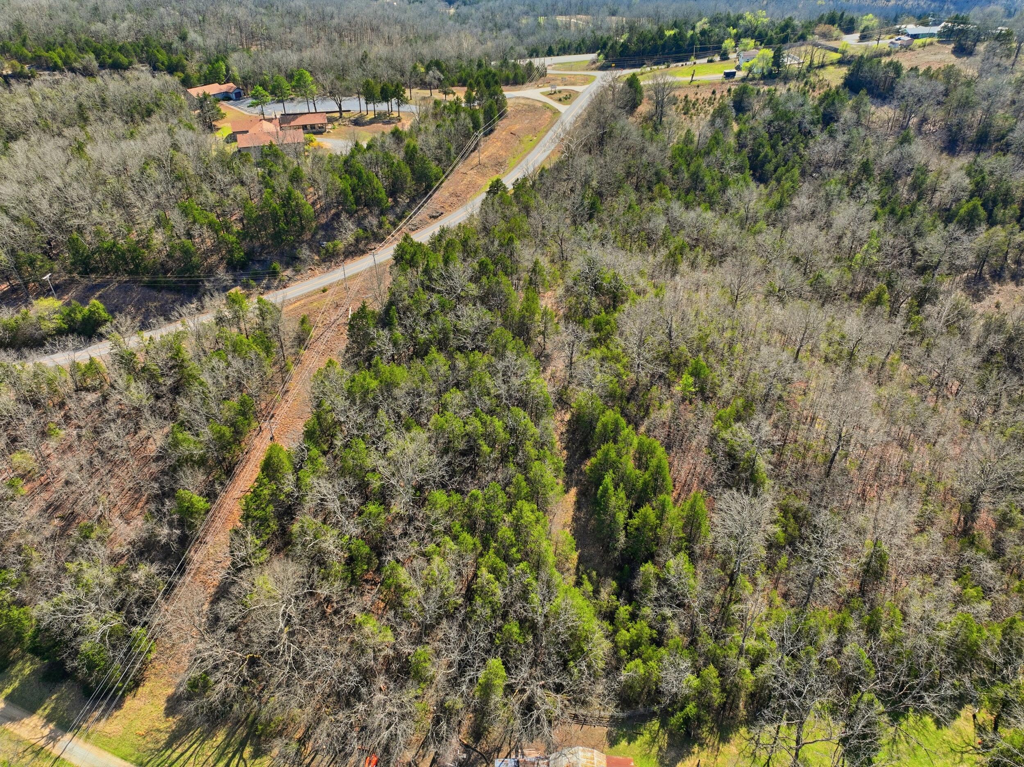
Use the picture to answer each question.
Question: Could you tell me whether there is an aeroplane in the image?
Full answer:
No, I find no aeroplane anywhere in the image.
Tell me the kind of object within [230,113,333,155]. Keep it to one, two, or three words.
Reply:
building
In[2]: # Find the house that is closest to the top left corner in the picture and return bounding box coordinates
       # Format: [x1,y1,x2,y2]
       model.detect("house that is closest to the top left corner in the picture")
[190,83,249,101]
